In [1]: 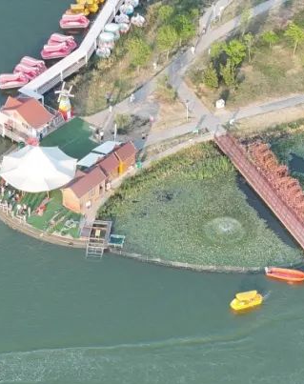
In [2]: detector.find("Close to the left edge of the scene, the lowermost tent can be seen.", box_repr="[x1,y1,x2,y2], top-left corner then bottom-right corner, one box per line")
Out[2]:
[0,145,77,206]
